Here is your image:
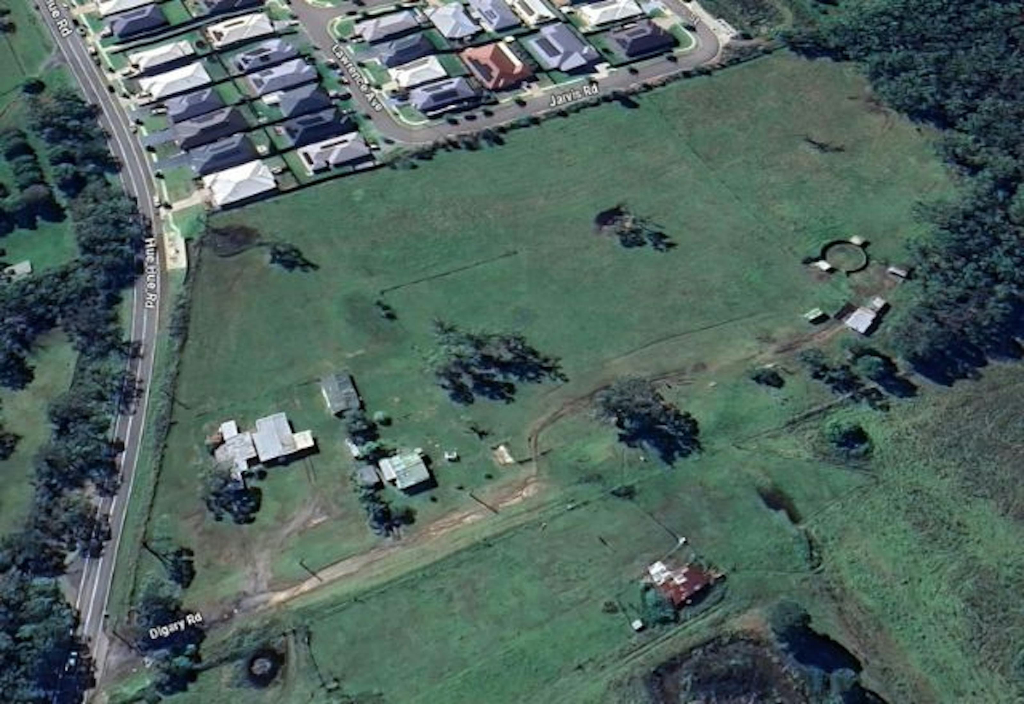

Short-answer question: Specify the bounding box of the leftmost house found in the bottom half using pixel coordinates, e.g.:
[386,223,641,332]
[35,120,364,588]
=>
[207,419,261,484]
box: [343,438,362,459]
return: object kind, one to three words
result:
vehicle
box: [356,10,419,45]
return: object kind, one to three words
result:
house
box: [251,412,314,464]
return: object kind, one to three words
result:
shed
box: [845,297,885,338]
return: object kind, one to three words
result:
barn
